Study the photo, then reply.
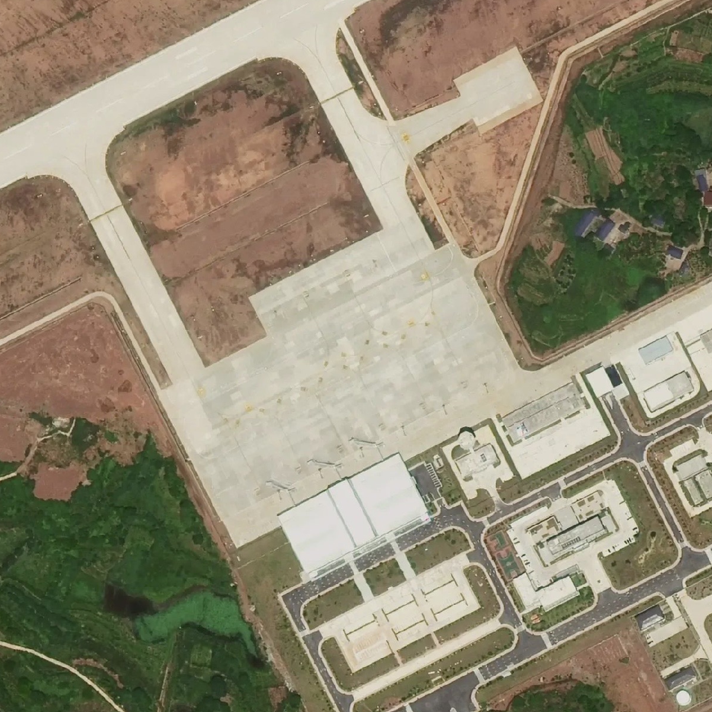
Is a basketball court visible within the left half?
No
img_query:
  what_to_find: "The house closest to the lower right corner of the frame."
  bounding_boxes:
[664,665,697,691]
